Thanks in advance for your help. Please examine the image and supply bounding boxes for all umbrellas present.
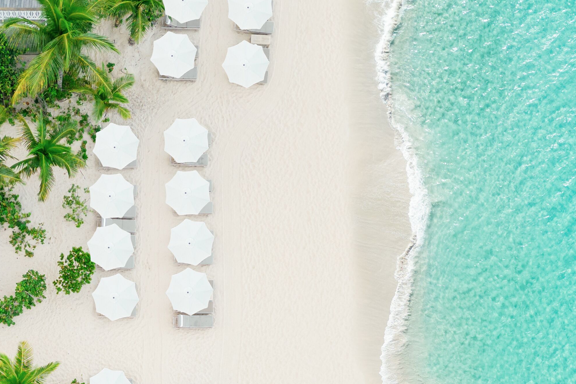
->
[83,226,131,272]
[161,121,206,165]
[217,44,266,93]
[88,177,132,222]
[89,277,135,324]
[91,125,138,173]
[162,0,206,32]
[162,270,209,318]
[224,0,269,39]
[163,221,212,270]
[147,36,195,84]
[162,174,206,219]
[88,368,126,384]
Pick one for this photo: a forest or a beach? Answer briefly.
beach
